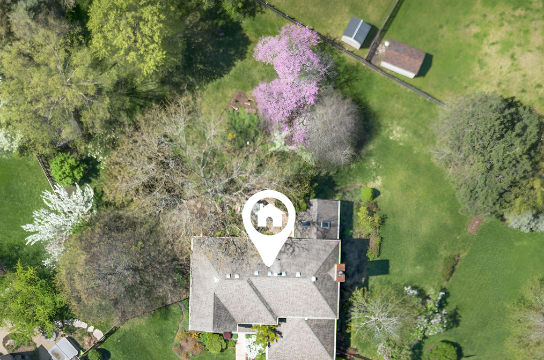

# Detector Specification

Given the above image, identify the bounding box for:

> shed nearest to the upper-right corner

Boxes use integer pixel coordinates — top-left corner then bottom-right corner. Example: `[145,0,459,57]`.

[378,39,425,79]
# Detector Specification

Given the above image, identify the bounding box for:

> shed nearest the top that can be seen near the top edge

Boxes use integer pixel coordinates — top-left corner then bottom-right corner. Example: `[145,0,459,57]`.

[342,16,371,49]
